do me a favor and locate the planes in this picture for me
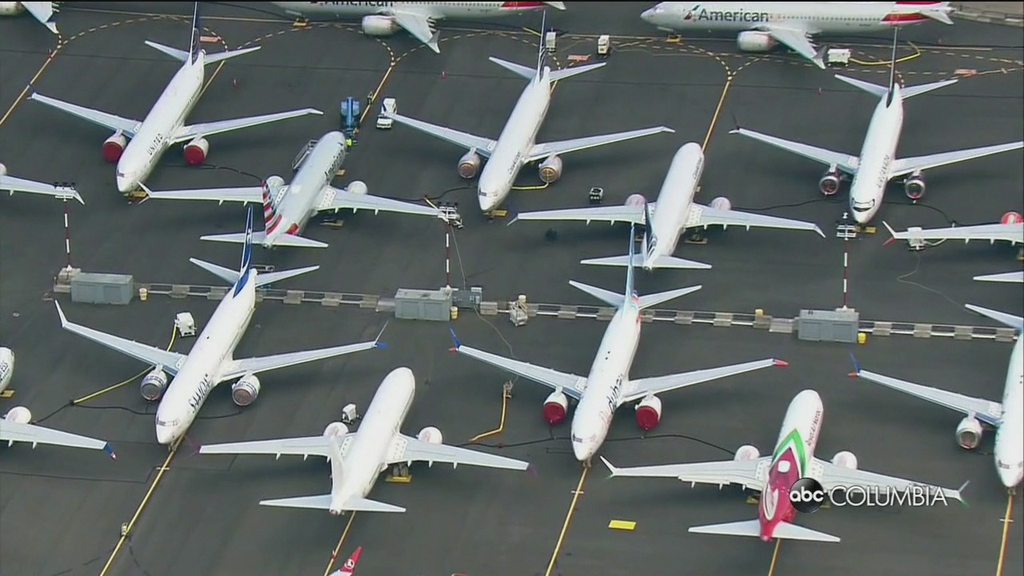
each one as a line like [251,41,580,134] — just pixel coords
[0,349,117,458]
[30,0,322,192]
[0,170,86,211]
[184,370,539,515]
[325,548,363,576]
[58,204,388,442]
[269,0,570,51]
[886,214,1024,284]
[136,135,448,248]
[601,394,966,543]
[731,23,1024,227]
[853,301,1024,492]
[505,154,825,269]
[448,223,786,464]
[640,0,955,68]
[377,8,676,211]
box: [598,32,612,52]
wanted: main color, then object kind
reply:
white vehicle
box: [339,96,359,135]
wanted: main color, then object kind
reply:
blue vehicle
